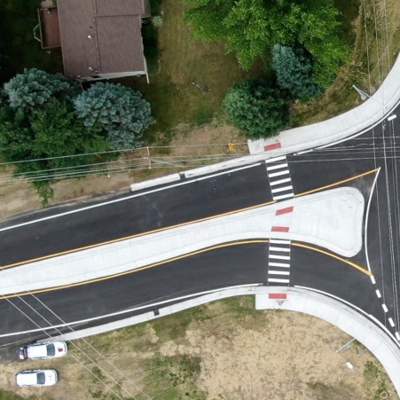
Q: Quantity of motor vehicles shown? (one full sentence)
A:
In total, there are 2 motor vehicles in the scene.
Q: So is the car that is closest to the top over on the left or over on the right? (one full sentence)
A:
The car that is closest to the top is on the left side of the image.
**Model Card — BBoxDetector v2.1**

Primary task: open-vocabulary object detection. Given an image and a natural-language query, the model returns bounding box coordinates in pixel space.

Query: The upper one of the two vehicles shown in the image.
[19,340,69,361]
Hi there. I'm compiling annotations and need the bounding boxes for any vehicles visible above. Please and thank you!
[16,368,61,388]
[19,340,69,361]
